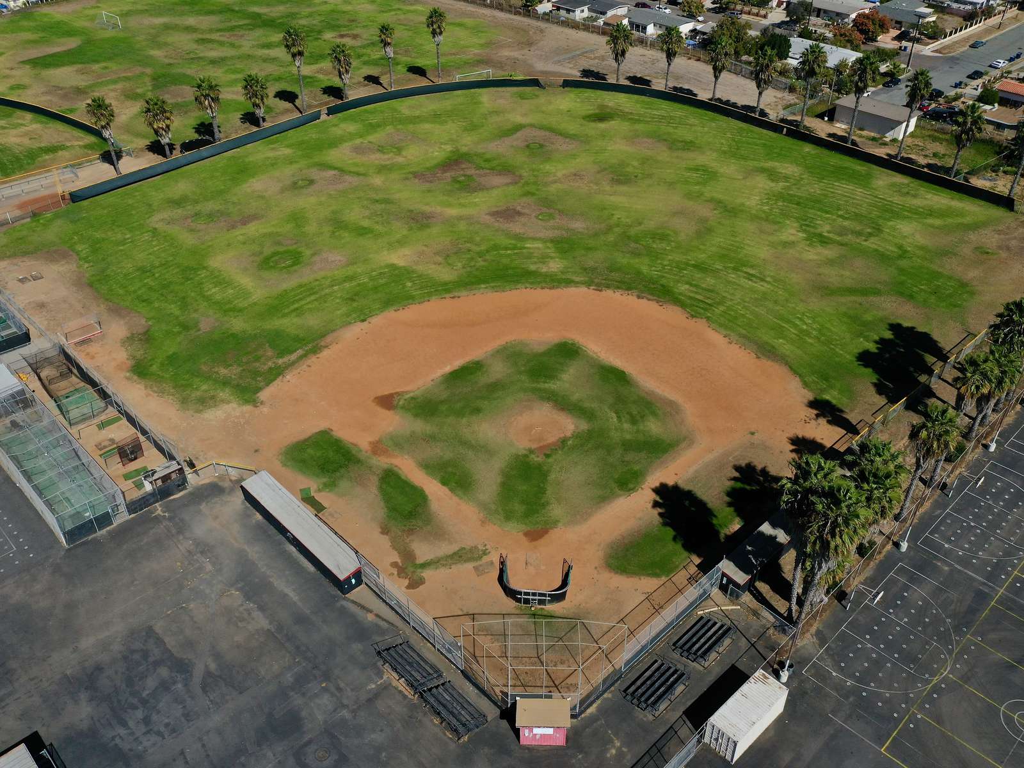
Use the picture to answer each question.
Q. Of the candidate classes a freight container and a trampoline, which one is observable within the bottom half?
freight container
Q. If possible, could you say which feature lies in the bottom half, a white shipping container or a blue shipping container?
white shipping container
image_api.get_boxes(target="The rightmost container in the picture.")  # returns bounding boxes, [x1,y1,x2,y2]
[703,667,790,765]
